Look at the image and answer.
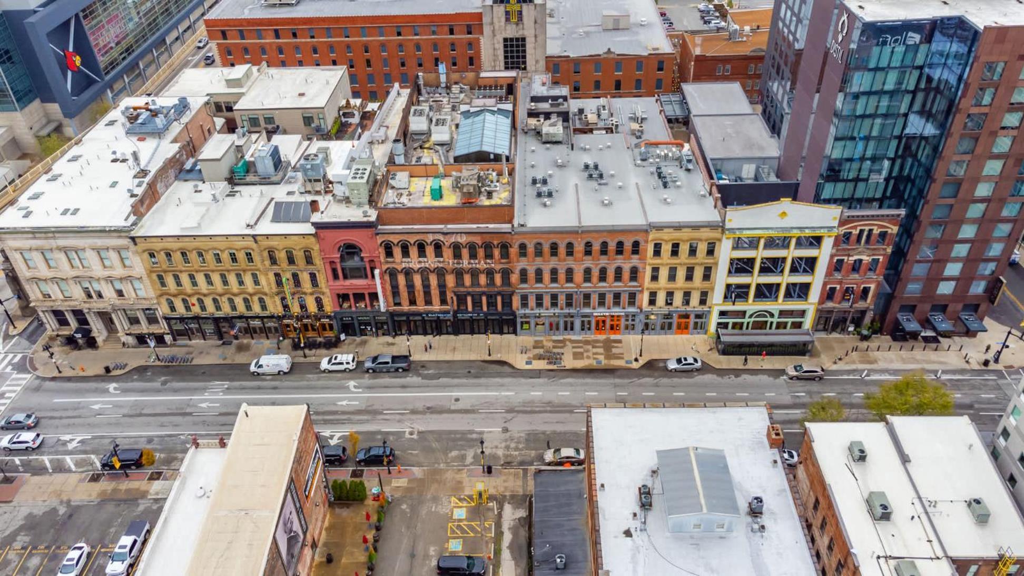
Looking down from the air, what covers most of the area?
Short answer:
buildings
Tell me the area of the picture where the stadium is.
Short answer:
top left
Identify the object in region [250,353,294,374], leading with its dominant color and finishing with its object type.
white vehicle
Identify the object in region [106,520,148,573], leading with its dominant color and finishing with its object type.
white truck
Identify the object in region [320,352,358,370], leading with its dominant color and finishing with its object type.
white car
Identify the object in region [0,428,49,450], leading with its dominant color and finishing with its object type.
white car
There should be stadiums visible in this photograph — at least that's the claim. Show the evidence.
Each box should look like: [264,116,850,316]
[0,0,213,142]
